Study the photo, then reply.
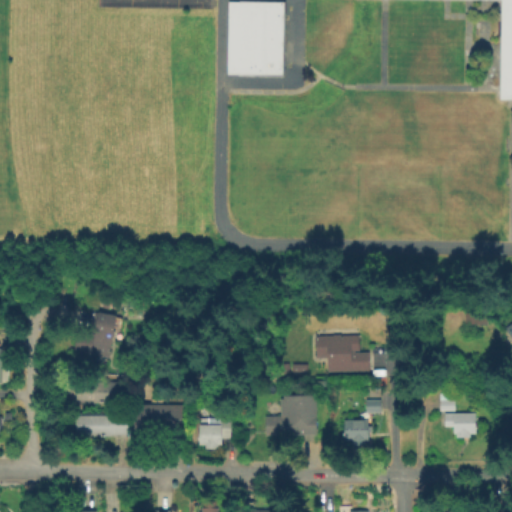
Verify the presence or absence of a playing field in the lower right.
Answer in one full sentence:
No, no playing field is visible in the lower right.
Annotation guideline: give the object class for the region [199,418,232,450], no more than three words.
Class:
house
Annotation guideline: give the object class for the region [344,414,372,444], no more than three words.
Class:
house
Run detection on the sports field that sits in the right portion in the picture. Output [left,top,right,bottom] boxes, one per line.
[228,91,509,240]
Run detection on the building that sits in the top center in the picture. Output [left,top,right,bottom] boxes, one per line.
[228,2,286,76]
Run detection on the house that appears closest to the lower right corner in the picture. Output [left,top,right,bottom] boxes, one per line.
[445,413,477,440]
